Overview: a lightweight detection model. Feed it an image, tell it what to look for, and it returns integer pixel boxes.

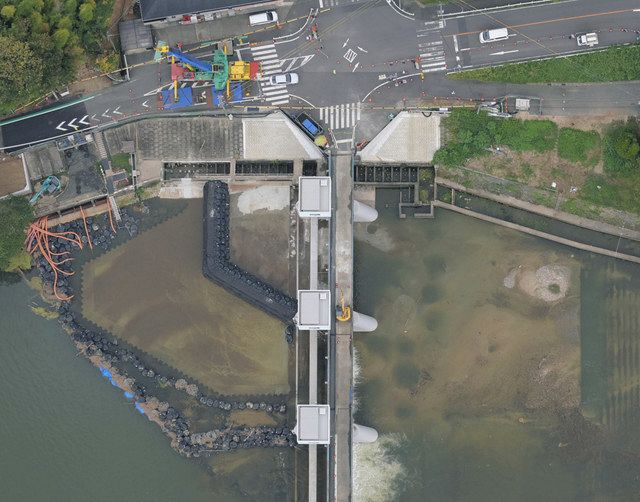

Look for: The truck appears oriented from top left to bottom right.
[294,111,325,139]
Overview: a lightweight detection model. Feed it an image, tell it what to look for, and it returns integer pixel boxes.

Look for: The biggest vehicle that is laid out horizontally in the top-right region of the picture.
[478,26,509,44]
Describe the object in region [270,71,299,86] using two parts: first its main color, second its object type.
white car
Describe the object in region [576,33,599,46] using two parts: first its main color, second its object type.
white vehicle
